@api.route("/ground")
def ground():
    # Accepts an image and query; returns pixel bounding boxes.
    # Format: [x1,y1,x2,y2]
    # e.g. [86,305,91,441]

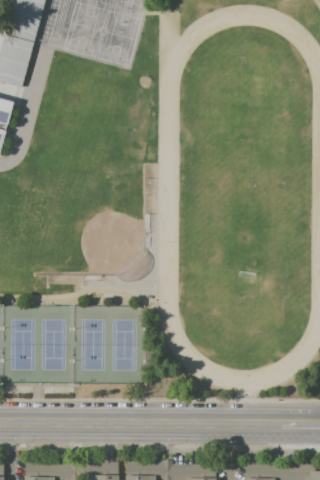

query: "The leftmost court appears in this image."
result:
[9,320,36,370]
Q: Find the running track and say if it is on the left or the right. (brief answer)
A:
right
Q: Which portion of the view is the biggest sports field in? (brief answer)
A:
right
